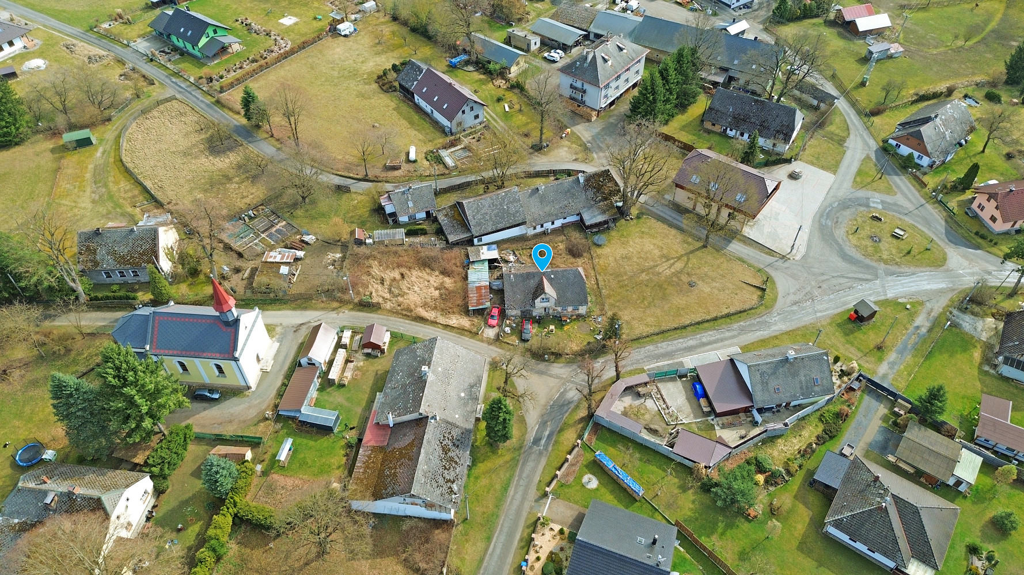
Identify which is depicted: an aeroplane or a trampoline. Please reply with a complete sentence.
This aerial view contains a trampoline.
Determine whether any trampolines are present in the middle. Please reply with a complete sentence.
Yes, you'll find a trampoline in the middle.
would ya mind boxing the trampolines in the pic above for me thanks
[590,231,610,248]
[4,433,46,470]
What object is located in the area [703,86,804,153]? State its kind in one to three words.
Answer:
house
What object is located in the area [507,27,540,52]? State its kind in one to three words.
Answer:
shed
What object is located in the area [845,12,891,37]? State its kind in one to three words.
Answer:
building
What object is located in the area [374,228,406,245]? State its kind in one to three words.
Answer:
greenhouse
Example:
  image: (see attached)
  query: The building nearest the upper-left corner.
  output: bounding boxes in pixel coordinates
[0,21,28,56]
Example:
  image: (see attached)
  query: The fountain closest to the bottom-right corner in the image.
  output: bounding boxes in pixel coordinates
[581,473,599,490]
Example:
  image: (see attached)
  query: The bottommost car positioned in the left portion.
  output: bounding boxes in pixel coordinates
[190,386,222,401]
